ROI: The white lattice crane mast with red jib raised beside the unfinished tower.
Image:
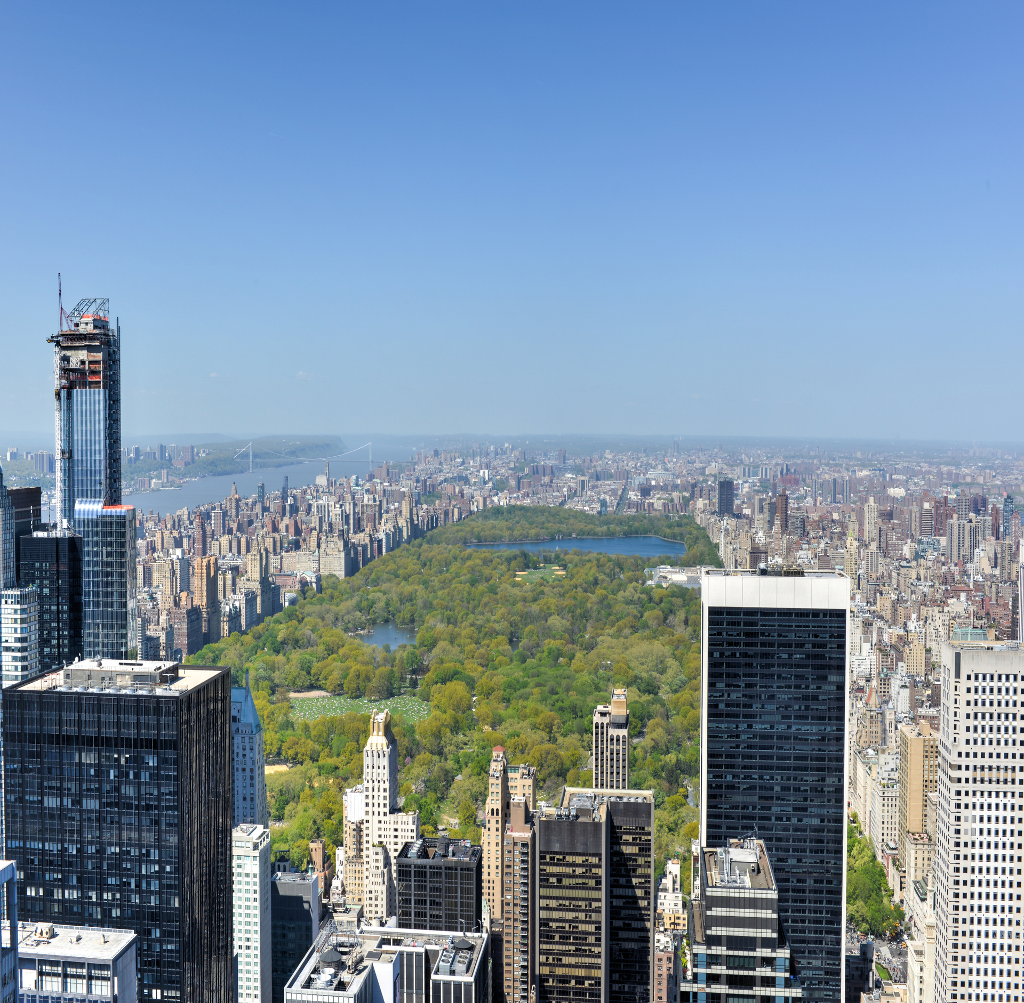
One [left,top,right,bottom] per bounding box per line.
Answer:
[45,273,79,530]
